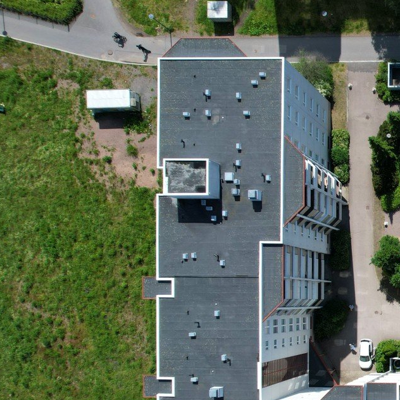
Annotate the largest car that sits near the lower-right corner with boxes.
[357,338,376,369]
